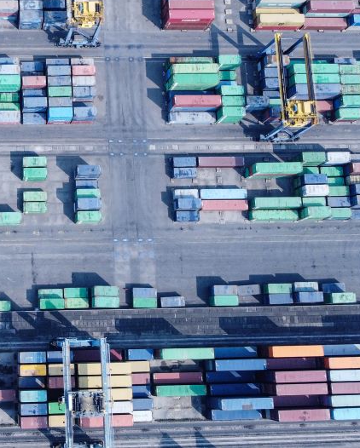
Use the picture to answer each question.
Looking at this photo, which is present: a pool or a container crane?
container crane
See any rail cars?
No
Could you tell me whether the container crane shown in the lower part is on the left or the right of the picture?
left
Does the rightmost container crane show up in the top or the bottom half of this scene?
top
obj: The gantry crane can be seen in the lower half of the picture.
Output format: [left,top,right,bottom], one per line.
[49,339,117,448]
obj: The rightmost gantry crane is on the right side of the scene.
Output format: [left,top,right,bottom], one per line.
[247,30,324,143]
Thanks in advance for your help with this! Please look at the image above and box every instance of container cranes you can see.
[49,339,117,448]
[52,0,105,49]
[247,30,324,143]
